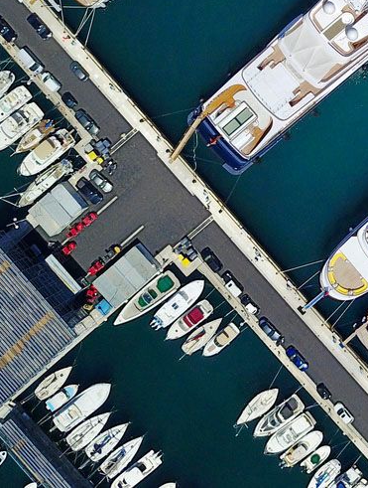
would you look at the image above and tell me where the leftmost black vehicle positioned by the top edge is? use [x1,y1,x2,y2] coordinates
[0,15,17,40]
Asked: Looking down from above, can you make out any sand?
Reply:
No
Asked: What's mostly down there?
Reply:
water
